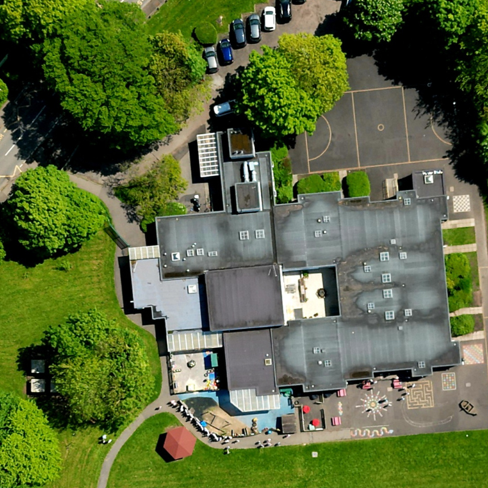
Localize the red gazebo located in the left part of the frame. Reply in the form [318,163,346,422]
[163,426,197,459]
